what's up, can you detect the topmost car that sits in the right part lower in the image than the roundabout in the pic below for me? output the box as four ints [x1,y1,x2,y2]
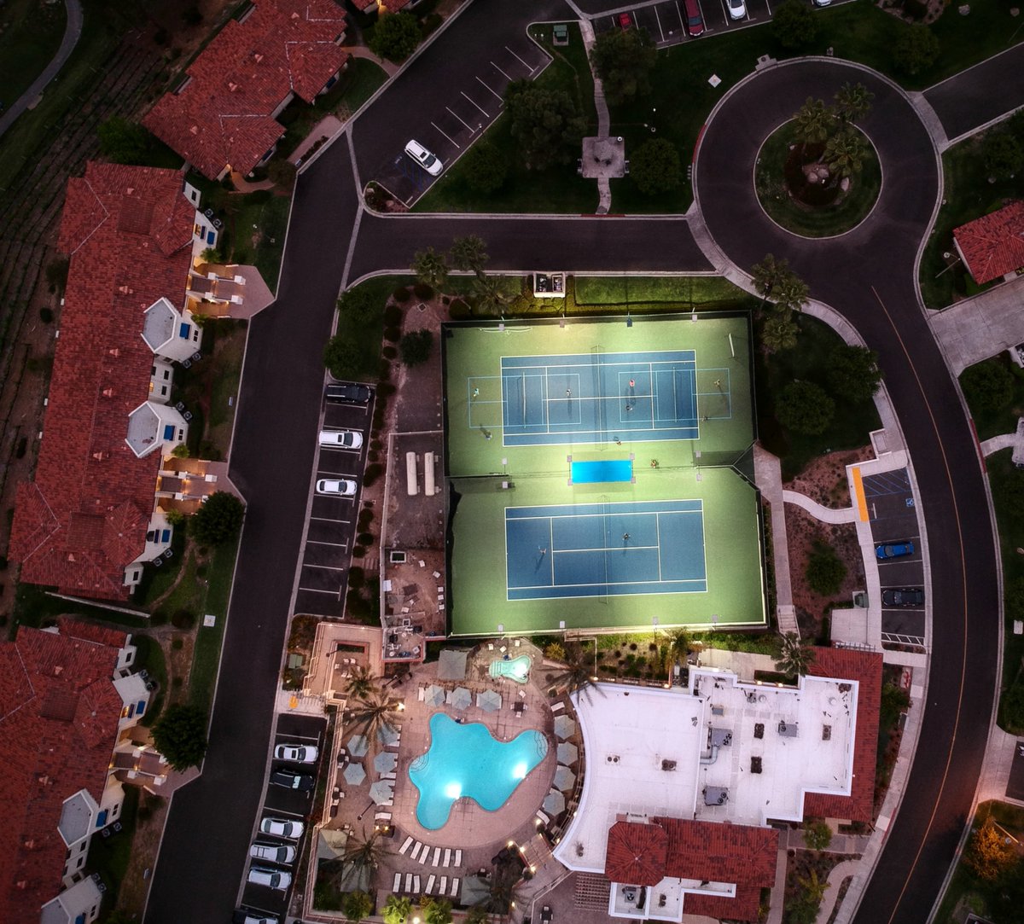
[874,541,915,561]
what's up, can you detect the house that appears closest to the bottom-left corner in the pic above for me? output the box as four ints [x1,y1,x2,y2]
[0,617,149,924]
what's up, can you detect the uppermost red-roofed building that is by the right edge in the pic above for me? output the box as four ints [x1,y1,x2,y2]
[951,202,1024,285]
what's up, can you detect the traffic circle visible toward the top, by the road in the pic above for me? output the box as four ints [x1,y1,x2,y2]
[696,59,939,299]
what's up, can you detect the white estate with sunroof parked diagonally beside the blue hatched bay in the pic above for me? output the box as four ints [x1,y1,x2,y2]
[404,139,441,175]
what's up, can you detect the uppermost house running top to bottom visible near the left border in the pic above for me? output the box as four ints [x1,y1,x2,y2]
[7,161,214,601]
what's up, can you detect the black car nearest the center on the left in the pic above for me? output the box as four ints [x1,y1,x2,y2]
[328,383,369,402]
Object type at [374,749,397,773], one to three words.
umbrella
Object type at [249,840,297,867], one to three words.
vehicle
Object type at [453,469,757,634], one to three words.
tennis court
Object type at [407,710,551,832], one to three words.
swimming pool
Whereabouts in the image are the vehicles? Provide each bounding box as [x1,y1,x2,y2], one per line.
[404,139,441,175]
[328,383,369,402]
[874,541,915,561]
[723,0,746,25]
[876,587,929,609]
[247,864,292,890]
[615,4,637,38]
[267,767,319,793]
[262,816,304,840]
[236,907,280,924]
[276,742,317,764]
[249,840,297,867]
[317,478,357,497]
[682,0,706,36]
[320,430,361,450]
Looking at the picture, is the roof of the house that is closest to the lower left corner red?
Yes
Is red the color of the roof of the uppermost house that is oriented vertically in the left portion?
Yes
